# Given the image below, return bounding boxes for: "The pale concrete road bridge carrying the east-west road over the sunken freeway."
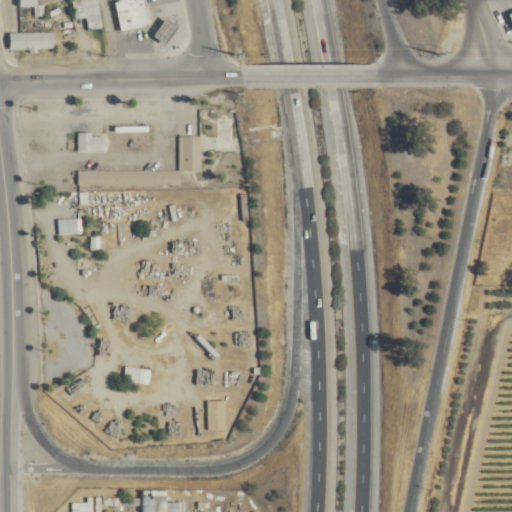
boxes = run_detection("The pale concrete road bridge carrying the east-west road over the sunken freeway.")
[242,64,378,86]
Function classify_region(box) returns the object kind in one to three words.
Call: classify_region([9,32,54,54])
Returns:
house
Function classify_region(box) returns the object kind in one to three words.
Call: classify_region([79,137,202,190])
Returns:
shed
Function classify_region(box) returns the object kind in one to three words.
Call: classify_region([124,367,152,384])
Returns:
barn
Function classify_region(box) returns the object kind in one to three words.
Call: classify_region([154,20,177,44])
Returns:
building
